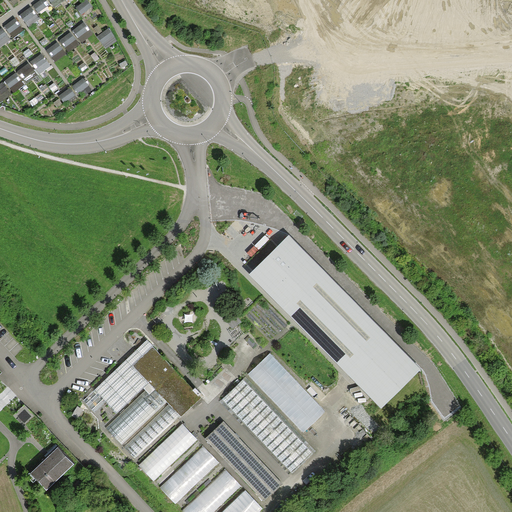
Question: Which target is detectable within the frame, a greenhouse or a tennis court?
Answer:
greenhouse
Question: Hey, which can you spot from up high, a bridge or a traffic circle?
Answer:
traffic circle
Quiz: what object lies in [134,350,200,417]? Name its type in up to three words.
building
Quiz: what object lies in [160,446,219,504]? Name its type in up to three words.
greenhouse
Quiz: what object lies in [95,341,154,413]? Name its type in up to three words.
greenhouse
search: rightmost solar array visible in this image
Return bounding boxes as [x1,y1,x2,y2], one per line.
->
[288,302,344,358]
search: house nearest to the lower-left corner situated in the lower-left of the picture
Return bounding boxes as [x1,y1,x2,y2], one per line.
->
[28,447,73,492]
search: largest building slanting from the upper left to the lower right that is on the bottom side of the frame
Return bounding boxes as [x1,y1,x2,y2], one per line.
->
[250,235,421,409]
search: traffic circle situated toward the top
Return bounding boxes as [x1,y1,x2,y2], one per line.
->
[142,54,232,144]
